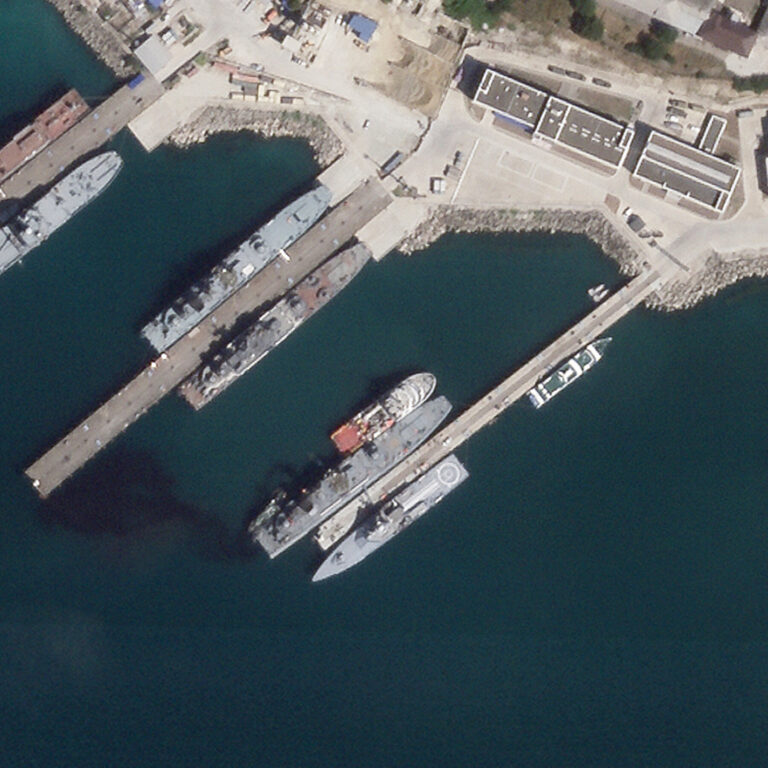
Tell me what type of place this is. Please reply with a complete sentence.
It's a port.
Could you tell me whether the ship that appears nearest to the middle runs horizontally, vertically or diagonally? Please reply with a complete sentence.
The ship that appears nearest to the middle has been laid out diagonally relative to the frame.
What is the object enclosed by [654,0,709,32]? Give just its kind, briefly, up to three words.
building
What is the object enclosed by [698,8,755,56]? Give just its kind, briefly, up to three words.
house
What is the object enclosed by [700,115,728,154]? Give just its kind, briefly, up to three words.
building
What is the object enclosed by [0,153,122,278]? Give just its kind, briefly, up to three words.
ship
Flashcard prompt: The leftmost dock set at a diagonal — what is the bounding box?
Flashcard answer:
[0,68,164,220]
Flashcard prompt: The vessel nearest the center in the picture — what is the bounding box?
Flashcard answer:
[331,373,435,452]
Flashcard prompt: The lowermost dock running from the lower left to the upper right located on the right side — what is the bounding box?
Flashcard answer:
[318,262,674,550]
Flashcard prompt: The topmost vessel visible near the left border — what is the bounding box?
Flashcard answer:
[0,91,91,184]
